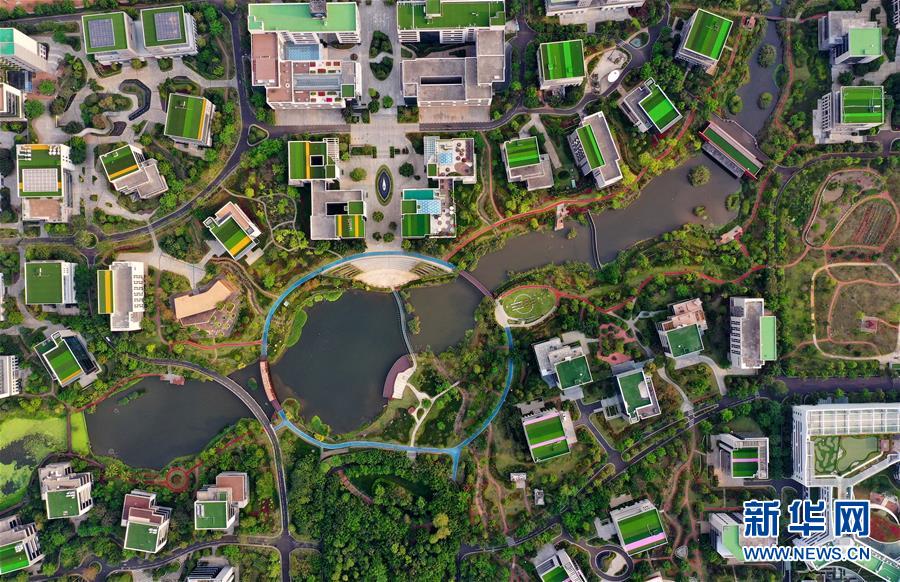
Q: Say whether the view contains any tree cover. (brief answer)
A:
Yes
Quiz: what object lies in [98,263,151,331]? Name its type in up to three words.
building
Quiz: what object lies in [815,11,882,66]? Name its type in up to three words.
building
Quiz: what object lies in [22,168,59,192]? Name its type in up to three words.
solar array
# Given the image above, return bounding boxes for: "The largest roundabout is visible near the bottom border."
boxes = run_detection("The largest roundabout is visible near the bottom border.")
[589,545,634,581]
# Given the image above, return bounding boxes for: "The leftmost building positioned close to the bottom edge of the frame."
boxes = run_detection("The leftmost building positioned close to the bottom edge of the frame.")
[0,510,52,574]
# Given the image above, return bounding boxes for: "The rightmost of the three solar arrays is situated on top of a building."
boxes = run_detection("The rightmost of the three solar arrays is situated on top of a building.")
[154,11,182,42]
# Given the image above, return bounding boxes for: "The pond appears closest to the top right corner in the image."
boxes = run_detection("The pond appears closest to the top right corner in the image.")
[729,0,788,156]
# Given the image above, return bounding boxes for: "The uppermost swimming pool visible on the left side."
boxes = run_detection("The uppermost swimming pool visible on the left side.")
[287,47,319,60]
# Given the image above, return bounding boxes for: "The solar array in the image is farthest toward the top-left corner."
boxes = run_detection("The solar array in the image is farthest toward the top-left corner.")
[88,18,116,48]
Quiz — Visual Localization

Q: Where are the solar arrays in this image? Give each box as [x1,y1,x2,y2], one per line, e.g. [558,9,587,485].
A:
[88,18,116,48]
[154,11,182,42]
[22,168,59,192]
